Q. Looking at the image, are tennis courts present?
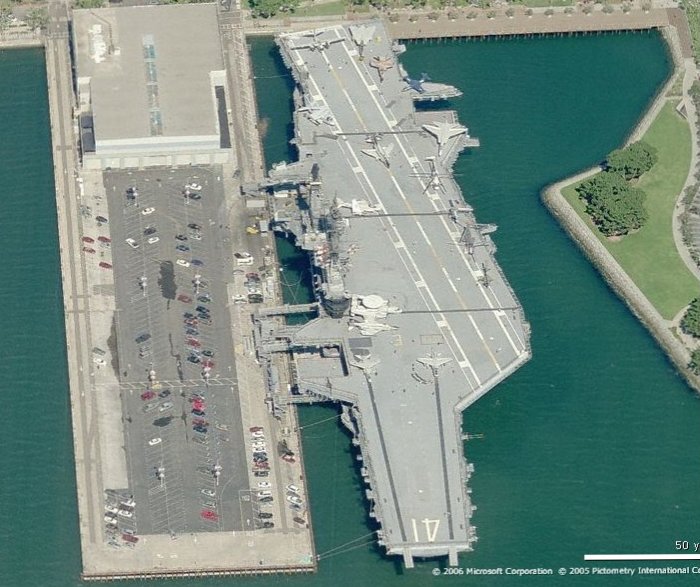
No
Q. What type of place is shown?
port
